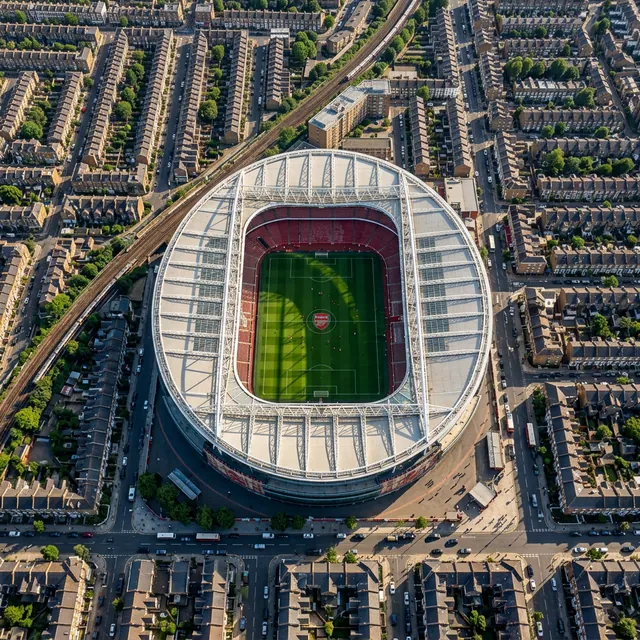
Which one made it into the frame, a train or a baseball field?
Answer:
train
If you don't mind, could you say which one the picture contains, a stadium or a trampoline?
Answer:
stadium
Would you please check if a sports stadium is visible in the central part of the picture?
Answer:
Yes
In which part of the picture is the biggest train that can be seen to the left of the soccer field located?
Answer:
left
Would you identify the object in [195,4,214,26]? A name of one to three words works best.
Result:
building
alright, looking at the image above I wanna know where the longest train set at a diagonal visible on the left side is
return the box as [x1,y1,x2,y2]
[48,262,128,358]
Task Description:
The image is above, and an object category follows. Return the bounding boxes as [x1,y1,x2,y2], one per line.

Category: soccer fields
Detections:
[249,247,392,402]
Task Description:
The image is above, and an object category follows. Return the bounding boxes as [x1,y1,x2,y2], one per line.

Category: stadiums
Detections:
[149,149,492,508]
